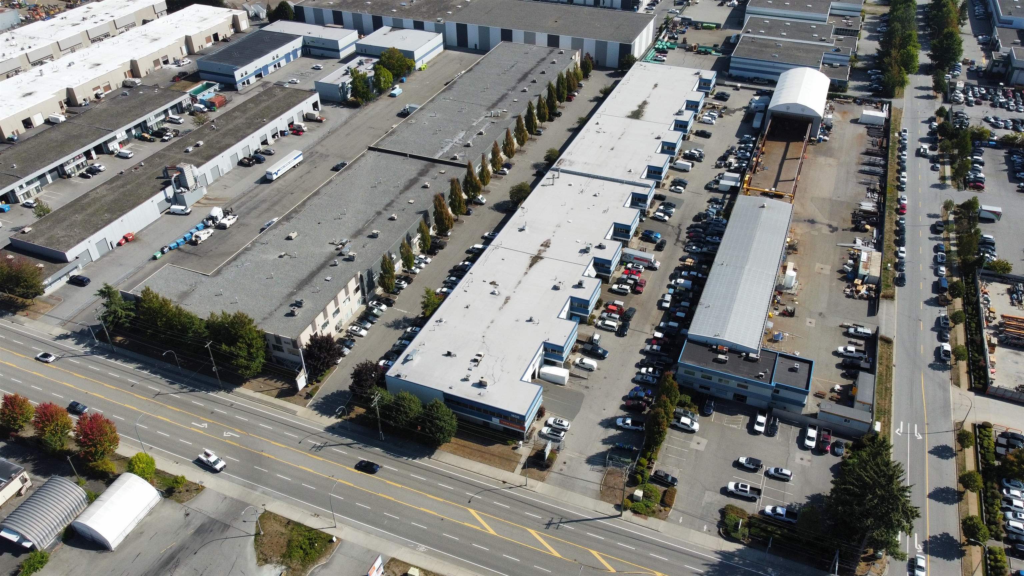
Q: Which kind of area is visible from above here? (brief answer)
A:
industrial area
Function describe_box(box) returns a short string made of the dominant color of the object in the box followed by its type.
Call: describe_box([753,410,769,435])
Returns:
white vehicle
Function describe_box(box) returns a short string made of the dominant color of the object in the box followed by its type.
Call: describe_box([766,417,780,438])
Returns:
black car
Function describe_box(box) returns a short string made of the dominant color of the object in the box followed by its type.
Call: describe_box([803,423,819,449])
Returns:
white vehicle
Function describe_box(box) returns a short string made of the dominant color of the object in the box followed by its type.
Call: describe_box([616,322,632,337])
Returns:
black car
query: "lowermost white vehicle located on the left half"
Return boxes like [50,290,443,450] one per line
[197,450,228,471]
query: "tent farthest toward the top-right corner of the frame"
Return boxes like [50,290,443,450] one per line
[859,106,888,123]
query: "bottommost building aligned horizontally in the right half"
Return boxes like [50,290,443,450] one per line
[819,398,874,432]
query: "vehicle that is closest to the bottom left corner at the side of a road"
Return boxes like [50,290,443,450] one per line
[66,400,91,416]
